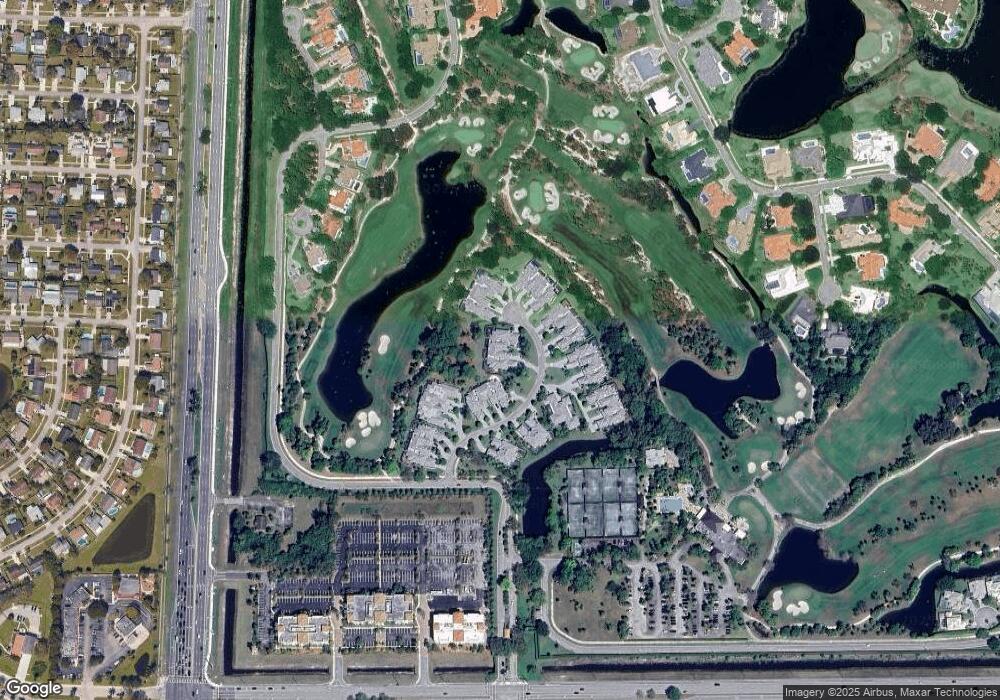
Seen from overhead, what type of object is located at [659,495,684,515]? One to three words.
swimming pool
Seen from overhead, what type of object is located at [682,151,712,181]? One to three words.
house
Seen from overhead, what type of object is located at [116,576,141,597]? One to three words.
building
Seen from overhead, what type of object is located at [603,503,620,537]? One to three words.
tennis court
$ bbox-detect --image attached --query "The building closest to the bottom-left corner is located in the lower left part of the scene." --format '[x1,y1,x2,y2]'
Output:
[11,633,36,655]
